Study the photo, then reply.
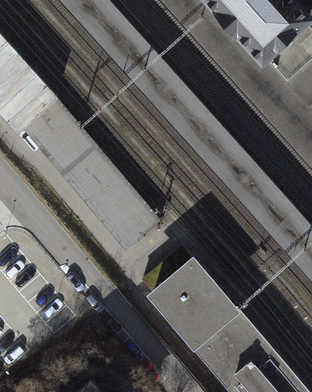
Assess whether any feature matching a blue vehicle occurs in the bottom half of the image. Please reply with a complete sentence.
Yes, looking in the bottom half of the image, one can make out a blue vehicle.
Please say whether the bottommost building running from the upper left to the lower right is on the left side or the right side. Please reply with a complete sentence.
The bottommost building running from the upper left to the lower right is on the right side of the image.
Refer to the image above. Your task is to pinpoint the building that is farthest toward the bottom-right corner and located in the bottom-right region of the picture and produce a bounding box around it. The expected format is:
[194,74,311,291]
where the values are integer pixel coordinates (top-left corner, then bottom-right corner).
[147,258,308,392]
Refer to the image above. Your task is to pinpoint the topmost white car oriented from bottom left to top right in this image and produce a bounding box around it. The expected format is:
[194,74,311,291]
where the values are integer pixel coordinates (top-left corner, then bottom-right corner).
[6,260,26,278]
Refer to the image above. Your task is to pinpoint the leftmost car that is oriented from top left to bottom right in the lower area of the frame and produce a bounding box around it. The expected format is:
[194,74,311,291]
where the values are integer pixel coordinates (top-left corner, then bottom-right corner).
[66,270,85,292]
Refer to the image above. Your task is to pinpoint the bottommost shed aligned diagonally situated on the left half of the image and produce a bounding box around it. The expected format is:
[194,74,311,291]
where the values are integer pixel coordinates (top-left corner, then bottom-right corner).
[26,98,162,251]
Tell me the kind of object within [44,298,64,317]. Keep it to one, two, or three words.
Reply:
car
